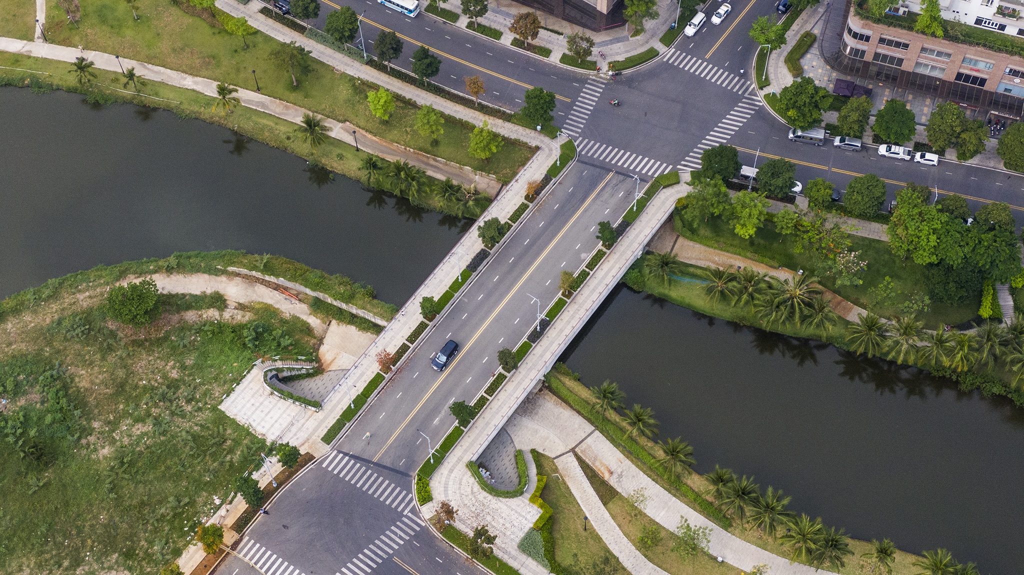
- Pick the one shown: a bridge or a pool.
bridge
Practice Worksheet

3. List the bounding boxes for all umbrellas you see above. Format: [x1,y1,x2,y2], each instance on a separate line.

[853,84,873,102]
[832,78,855,98]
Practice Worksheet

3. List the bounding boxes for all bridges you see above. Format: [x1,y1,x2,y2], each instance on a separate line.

[320,145,677,478]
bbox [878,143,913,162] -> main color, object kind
white vehicle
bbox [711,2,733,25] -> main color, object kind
white car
